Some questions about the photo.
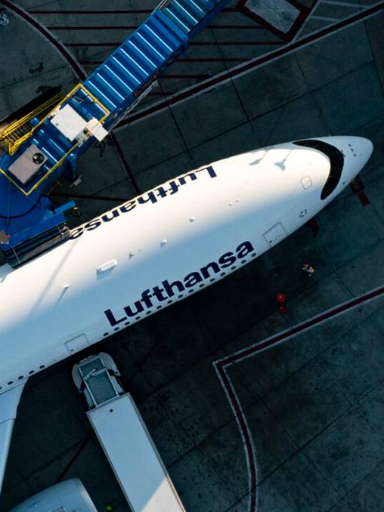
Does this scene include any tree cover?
No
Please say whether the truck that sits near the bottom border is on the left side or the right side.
left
